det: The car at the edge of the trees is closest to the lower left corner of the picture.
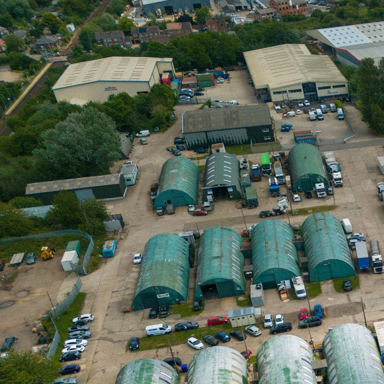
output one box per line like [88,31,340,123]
[2,336,15,349]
